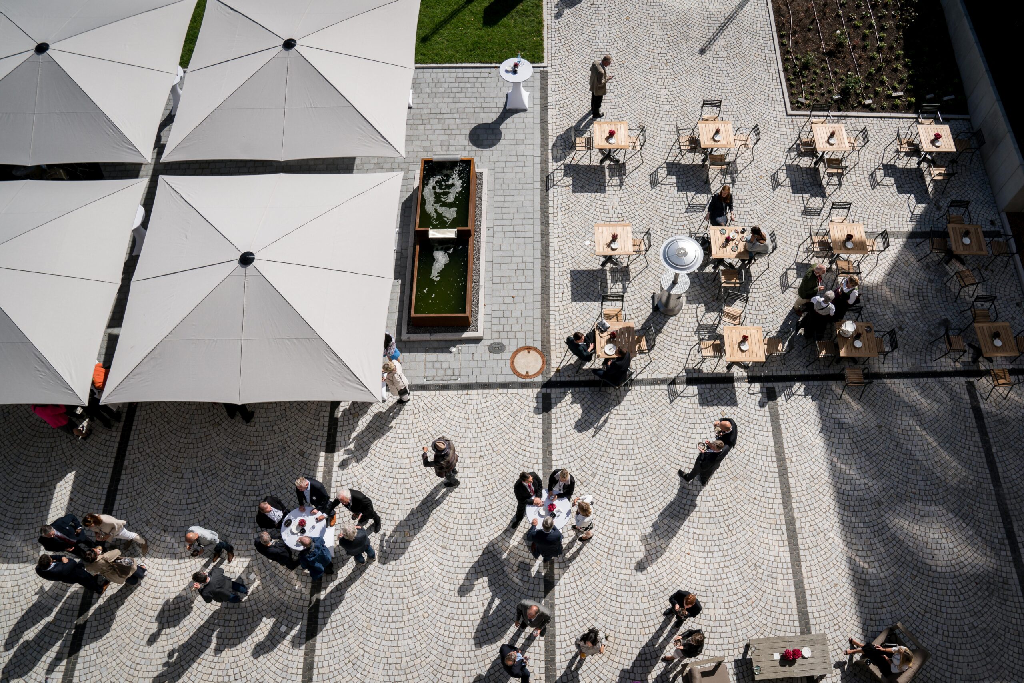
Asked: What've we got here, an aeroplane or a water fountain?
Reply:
water fountain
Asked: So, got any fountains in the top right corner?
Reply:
No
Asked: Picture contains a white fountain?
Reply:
No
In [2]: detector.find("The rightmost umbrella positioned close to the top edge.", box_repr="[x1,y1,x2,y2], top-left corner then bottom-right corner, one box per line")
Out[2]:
[161,0,419,167]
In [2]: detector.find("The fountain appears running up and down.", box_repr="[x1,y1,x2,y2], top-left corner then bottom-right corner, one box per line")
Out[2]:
[411,151,475,327]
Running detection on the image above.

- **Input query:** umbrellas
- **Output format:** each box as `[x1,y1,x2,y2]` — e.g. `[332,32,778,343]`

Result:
[161,0,419,167]
[0,178,150,408]
[0,0,193,170]
[99,173,404,406]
